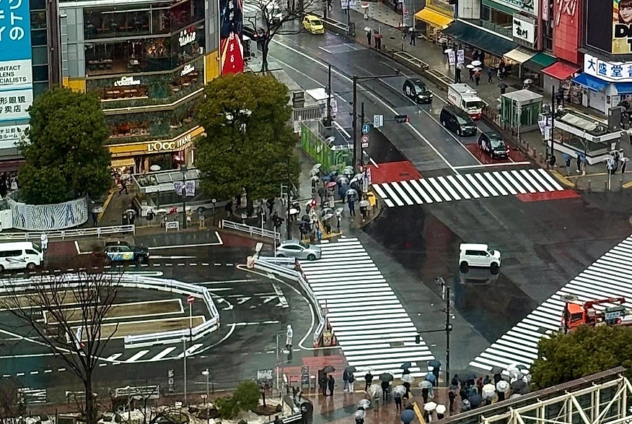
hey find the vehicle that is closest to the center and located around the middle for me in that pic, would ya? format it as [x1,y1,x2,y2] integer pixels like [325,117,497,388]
[272,237,327,260]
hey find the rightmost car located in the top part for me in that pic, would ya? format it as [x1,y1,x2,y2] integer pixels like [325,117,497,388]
[475,129,514,157]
